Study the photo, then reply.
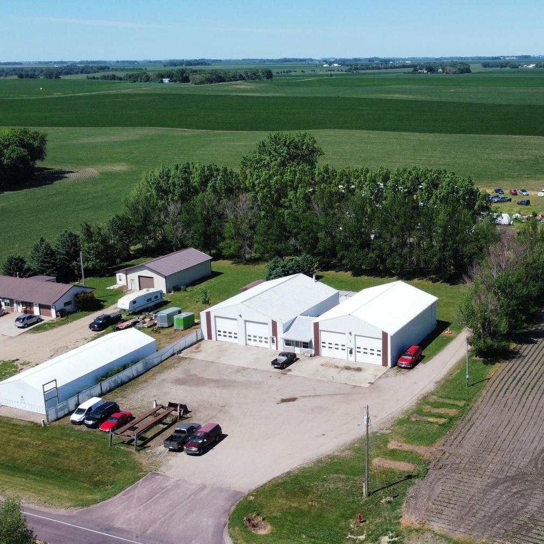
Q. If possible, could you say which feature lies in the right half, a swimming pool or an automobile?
automobile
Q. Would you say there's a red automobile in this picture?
Yes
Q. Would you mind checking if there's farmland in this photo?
Yes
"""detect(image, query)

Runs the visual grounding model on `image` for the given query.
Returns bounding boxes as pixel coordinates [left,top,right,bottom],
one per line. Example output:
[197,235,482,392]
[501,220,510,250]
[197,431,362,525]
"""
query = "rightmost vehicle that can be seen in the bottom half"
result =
[399,346,421,368]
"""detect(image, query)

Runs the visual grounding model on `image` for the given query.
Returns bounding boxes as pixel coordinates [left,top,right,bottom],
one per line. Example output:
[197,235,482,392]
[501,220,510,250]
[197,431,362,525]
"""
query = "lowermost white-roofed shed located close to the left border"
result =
[0,329,153,414]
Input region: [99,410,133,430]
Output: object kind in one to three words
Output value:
car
